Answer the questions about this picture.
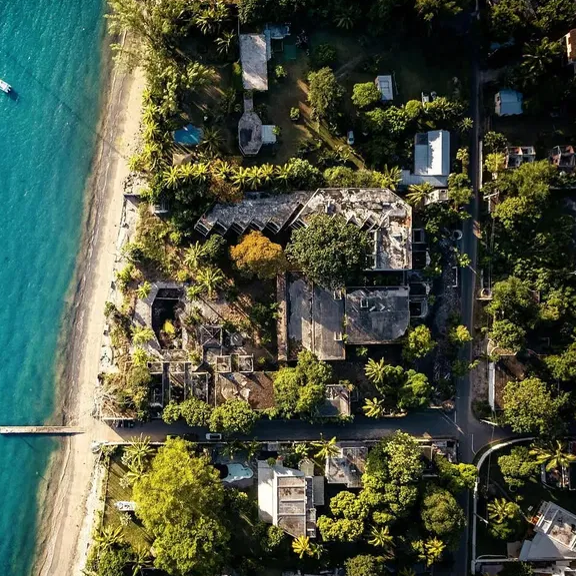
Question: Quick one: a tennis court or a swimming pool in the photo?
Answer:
swimming pool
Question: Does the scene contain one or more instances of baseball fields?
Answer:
No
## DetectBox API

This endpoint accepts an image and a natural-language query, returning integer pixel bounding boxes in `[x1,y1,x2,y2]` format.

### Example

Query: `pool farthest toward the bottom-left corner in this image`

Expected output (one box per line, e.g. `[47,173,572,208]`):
[217,457,258,488]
